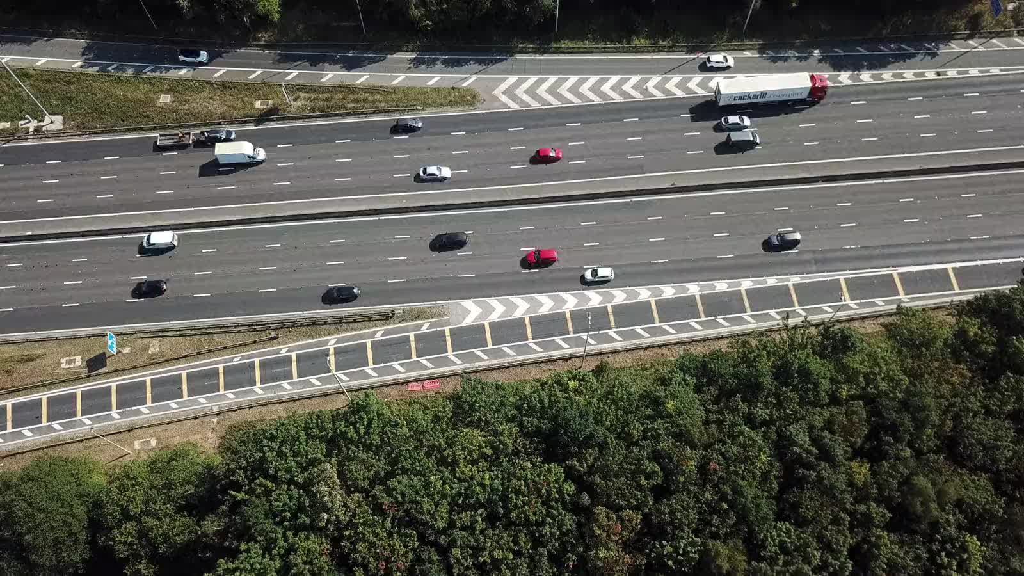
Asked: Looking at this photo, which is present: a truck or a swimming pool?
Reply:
truck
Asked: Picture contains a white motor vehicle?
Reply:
Yes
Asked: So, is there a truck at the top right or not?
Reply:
Yes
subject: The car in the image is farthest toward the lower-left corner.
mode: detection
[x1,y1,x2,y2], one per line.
[138,280,170,296]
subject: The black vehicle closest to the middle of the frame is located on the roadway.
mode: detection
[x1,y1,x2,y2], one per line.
[436,233,468,249]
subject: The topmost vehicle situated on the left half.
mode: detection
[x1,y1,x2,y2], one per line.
[179,50,209,64]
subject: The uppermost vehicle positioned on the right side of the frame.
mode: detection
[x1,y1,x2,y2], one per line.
[705,55,734,69]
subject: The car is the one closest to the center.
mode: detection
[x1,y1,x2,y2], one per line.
[527,248,558,265]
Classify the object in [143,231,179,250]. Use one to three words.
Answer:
vehicle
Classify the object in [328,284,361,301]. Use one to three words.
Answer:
car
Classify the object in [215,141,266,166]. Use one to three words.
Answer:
vehicle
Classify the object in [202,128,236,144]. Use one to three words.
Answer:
car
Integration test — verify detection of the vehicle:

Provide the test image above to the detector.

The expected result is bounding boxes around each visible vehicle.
[202,128,236,144]
[143,231,179,250]
[395,118,424,133]
[583,266,615,283]
[705,55,734,69]
[768,231,804,248]
[328,284,361,301]
[726,129,760,147]
[420,166,451,182]
[713,75,826,111]
[436,233,468,249]
[215,141,266,166]
[720,115,751,130]
[179,50,209,64]
[138,280,170,296]
[527,248,558,265]
[537,147,564,163]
